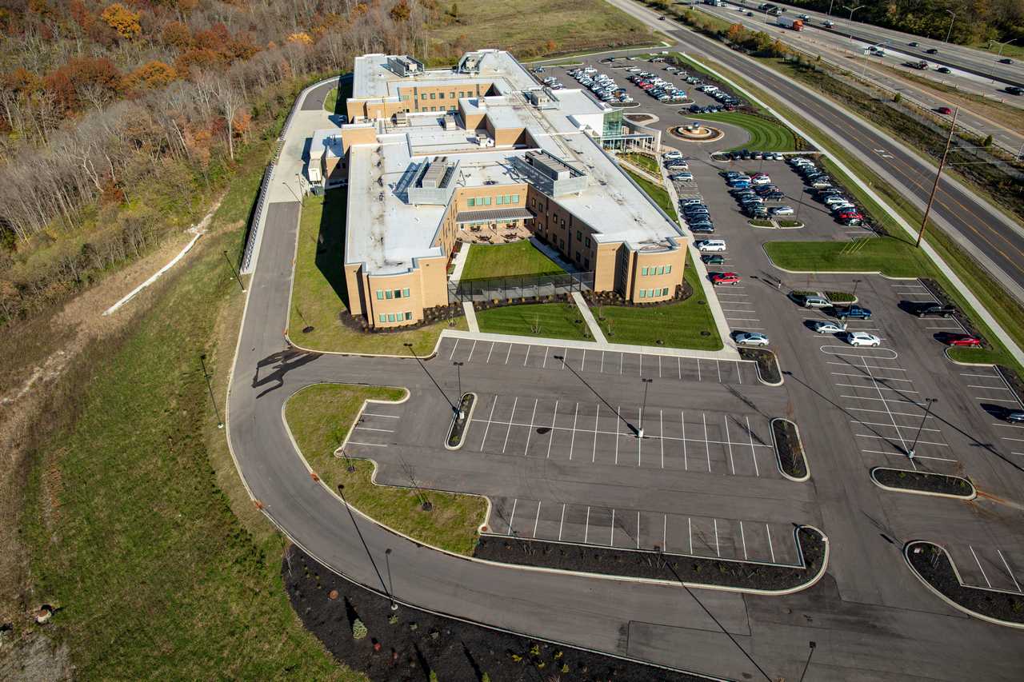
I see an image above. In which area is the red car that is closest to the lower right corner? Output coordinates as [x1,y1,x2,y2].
[945,334,983,349]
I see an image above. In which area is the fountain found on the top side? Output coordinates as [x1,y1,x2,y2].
[679,121,711,138]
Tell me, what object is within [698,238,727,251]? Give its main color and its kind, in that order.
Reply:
white vehicle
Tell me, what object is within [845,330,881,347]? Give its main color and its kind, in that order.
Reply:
white car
